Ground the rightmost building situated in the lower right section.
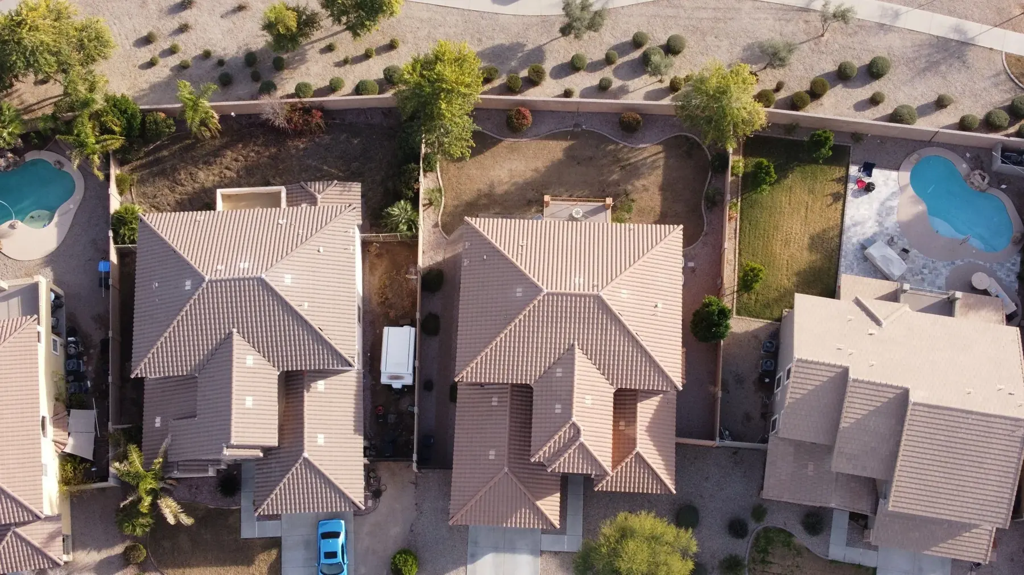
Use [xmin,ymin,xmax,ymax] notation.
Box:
[759,274,1024,563]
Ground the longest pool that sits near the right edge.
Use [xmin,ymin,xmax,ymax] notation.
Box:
[910,154,1014,253]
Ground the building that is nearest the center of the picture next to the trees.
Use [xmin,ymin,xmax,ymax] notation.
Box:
[448,197,687,530]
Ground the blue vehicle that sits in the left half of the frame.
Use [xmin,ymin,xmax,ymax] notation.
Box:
[313,516,348,575]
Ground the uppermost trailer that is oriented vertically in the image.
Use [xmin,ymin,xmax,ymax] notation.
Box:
[381,328,414,401]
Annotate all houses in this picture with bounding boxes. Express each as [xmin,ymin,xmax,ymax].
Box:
[448,197,687,530]
[0,276,85,571]
[129,177,365,515]
[759,274,1024,563]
